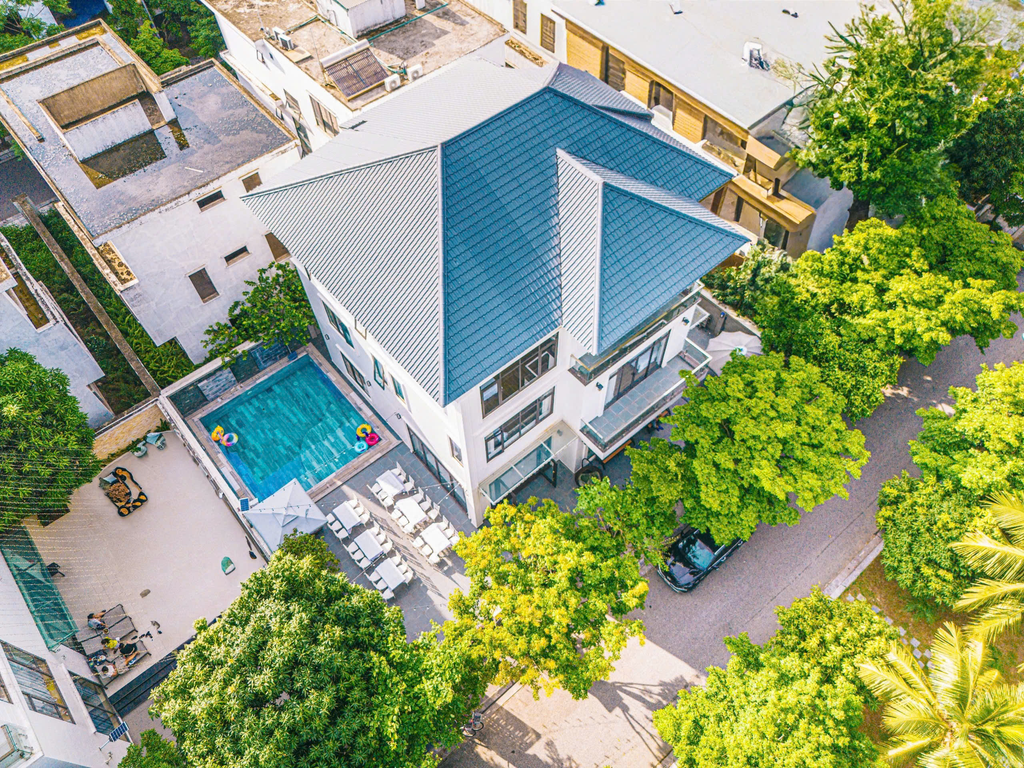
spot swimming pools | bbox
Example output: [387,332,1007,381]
[185,344,402,507]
